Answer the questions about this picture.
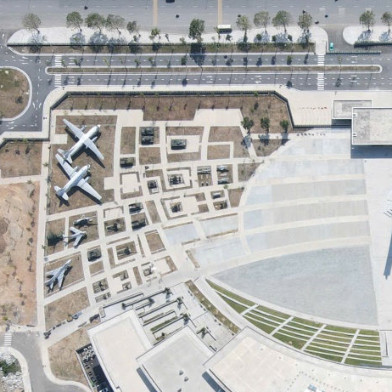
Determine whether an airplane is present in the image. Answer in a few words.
Yes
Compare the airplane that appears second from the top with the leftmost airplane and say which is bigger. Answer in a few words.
the airplane that appears second from the top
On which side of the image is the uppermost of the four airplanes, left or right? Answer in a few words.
left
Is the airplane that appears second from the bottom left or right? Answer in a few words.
left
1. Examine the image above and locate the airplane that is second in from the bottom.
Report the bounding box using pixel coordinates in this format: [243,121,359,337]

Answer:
[62,224,85,245]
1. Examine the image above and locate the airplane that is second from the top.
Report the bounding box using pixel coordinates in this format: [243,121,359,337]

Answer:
[54,154,98,198]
